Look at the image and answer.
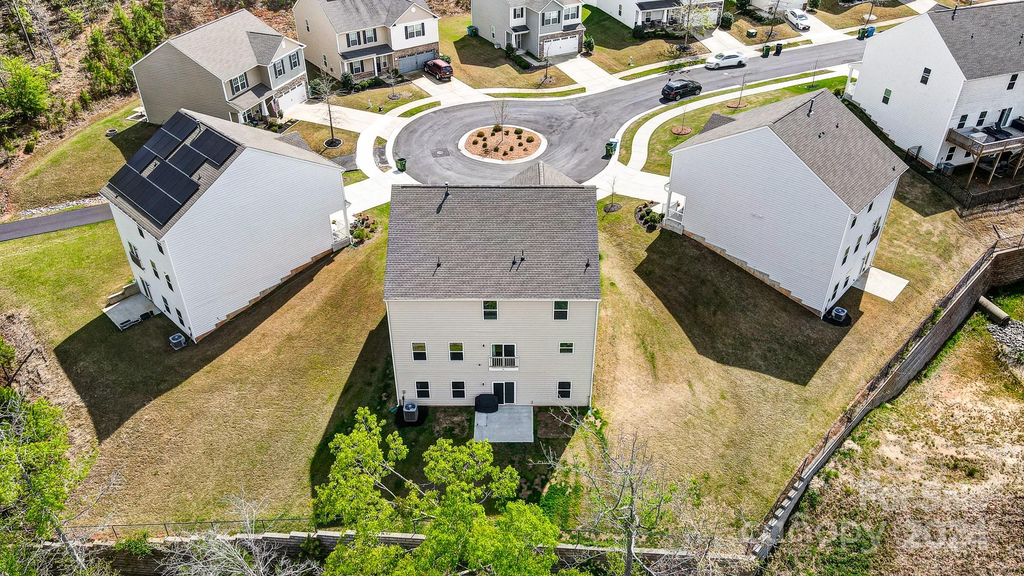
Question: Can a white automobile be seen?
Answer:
Yes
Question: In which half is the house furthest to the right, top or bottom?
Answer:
top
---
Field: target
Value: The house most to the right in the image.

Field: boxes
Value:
[843,1,1024,187]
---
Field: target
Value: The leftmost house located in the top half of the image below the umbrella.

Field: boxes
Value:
[98,108,356,344]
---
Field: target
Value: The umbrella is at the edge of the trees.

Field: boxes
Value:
[122,95,144,118]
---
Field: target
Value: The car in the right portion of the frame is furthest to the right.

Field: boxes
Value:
[787,11,810,27]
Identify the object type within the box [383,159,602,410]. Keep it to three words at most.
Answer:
house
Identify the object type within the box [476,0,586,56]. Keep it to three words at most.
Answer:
house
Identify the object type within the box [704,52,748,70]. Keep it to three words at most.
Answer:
car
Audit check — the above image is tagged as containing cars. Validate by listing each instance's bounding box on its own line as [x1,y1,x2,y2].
[704,52,748,70]
[787,11,810,27]
[424,57,454,77]
[660,78,704,101]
